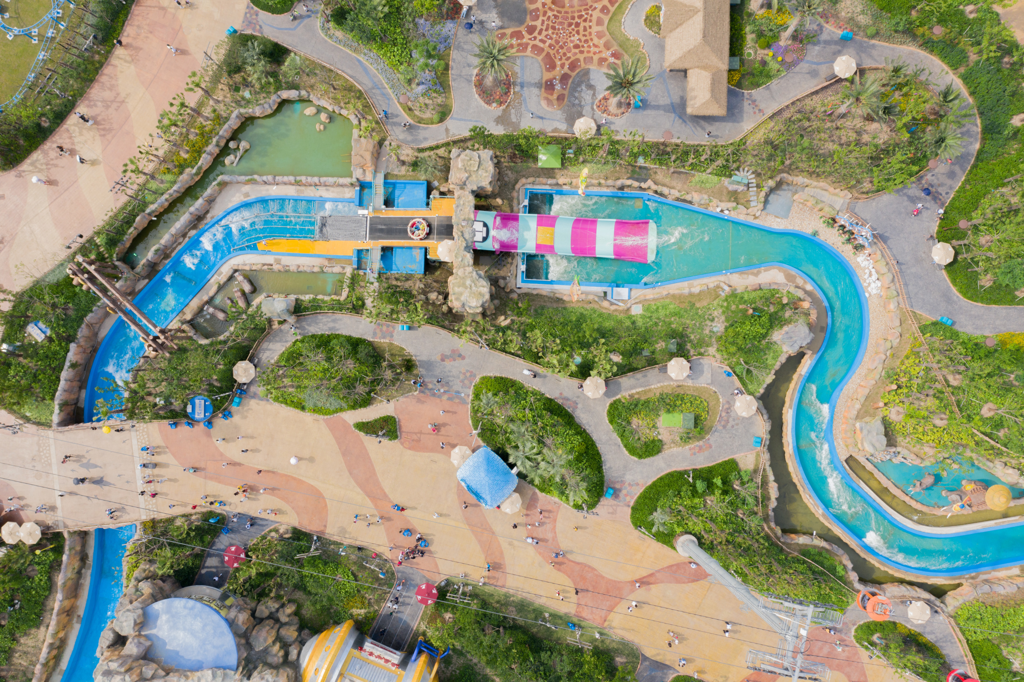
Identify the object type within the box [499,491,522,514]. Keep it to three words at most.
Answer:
umbrella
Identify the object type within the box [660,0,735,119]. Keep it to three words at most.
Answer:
shed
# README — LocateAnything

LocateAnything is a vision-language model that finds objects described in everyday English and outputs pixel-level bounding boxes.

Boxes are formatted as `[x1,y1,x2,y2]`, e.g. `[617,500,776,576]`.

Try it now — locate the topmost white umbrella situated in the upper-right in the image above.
[832,56,855,79]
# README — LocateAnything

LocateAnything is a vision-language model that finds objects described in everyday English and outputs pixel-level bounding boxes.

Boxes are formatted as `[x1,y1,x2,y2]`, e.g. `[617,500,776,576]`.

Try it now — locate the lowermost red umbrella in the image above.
[415,581,438,605]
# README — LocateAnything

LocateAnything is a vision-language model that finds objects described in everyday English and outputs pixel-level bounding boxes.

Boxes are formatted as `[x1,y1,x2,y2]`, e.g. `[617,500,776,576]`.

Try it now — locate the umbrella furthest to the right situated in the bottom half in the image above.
[981,482,1010,511]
